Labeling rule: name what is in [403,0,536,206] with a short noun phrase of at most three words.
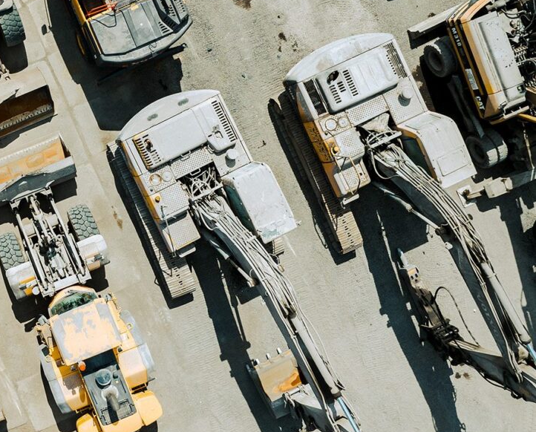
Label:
work vehicle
